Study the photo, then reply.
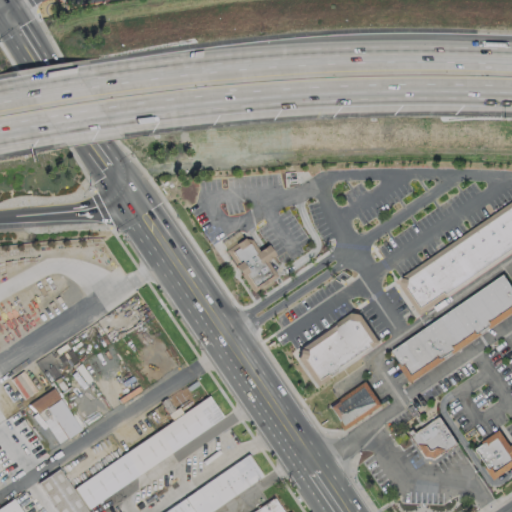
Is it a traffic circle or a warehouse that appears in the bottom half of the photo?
warehouse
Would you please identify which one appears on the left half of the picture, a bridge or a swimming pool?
bridge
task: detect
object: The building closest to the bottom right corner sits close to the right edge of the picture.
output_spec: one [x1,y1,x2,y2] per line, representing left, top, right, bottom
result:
[475,430,512,480]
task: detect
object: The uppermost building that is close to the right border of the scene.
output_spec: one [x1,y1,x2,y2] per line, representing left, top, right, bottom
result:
[402,204,512,312]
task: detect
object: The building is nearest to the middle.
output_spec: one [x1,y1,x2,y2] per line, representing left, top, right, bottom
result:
[228,238,280,292]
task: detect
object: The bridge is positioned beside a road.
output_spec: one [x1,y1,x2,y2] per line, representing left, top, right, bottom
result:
[8,57,136,153]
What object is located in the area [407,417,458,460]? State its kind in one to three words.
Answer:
building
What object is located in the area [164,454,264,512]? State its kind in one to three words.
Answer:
building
